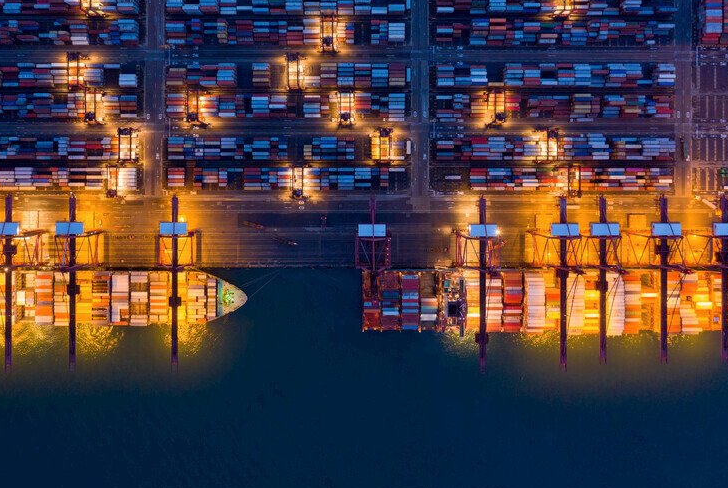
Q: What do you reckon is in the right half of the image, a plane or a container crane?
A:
container crane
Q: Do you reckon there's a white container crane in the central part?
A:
No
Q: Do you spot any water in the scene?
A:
Yes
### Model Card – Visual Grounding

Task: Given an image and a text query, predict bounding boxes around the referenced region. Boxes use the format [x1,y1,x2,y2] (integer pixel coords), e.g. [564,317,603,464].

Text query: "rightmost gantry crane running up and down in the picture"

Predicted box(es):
[673,192,728,362]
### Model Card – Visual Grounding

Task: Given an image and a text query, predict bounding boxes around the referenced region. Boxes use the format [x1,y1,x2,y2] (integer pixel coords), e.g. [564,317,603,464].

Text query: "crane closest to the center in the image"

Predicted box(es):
[345,191,392,306]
